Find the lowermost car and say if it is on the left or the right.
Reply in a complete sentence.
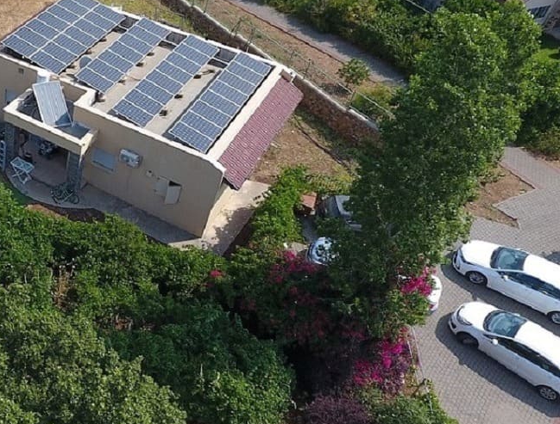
You can find the lowermost car on the right side of the picture.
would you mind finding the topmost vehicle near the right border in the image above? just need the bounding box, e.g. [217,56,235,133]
[455,240,560,325]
